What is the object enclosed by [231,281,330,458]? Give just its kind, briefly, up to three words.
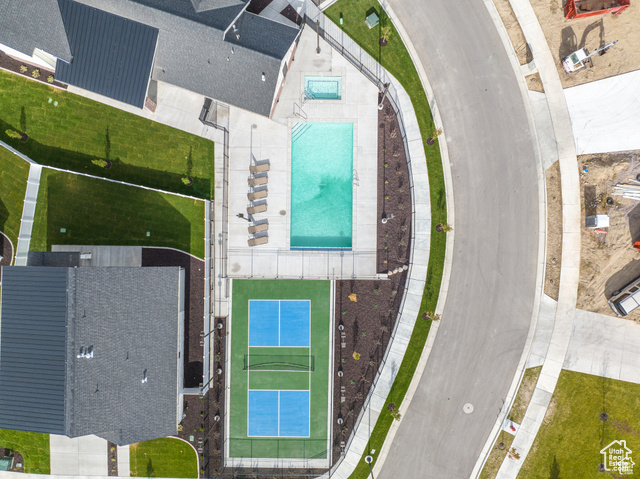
sports court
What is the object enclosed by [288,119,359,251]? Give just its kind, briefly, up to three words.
swimming pool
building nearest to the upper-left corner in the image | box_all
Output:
[0,0,301,121]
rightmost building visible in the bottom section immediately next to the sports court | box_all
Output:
[1,252,186,446]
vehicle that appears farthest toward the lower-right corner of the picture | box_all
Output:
[611,281,640,317]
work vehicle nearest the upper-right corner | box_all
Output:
[561,39,622,75]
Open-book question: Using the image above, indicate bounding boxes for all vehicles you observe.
[561,39,622,75]
[611,281,640,317]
